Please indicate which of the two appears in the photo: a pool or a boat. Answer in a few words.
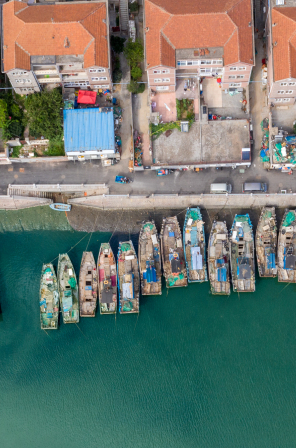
boat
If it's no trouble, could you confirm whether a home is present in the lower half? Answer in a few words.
No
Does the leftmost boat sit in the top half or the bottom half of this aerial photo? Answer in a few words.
bottom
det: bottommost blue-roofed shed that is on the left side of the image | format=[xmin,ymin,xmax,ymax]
[64,107,114,157]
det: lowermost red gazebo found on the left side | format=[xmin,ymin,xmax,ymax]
[79,92,98,108]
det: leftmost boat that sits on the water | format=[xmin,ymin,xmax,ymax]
[38,263,58,330]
